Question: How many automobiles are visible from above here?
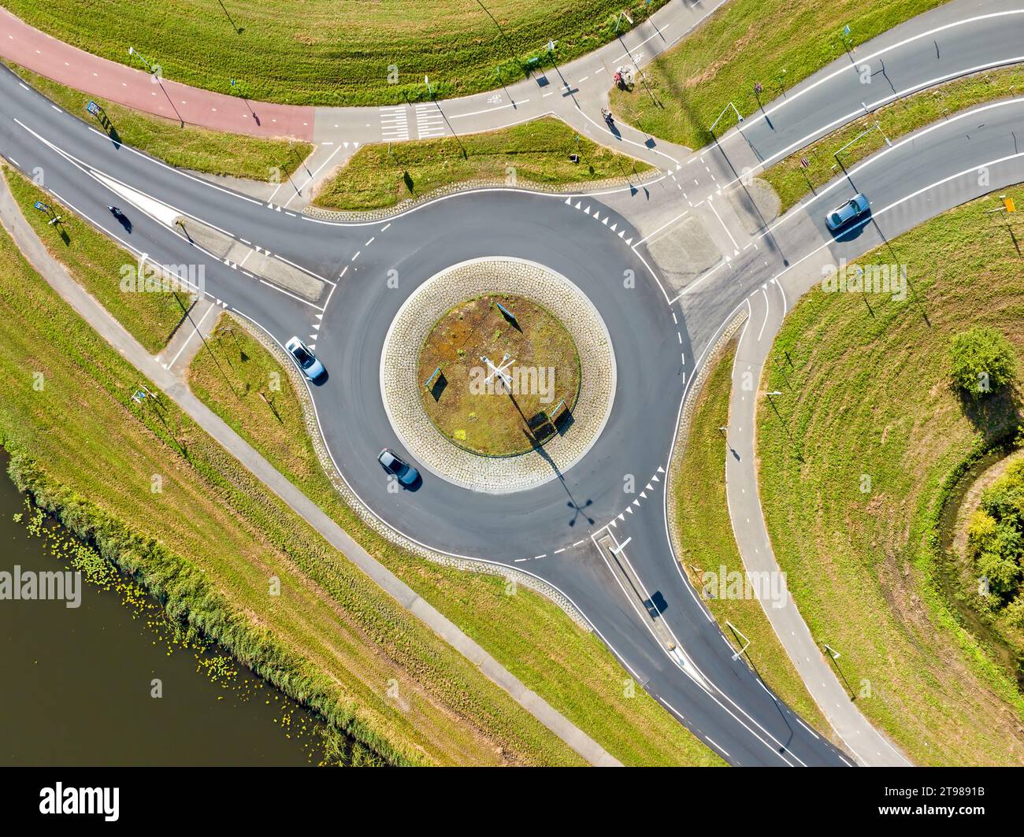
three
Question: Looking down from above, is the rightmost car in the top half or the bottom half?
top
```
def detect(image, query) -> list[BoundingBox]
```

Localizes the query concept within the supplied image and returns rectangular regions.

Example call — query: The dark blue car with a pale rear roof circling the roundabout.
[377,446,421,489]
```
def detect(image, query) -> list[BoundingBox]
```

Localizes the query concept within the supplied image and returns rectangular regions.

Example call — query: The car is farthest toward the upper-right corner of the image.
[823,192,872,230]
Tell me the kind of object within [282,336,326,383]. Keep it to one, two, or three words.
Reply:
car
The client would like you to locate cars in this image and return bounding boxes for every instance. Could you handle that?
[282,336,326,383]
[823,192,872,230]
[377,446,421,489]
